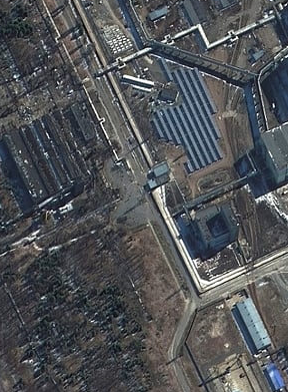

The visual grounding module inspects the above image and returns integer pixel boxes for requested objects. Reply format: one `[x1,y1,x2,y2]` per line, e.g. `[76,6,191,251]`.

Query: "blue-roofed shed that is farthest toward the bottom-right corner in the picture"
[266,362,286,392]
